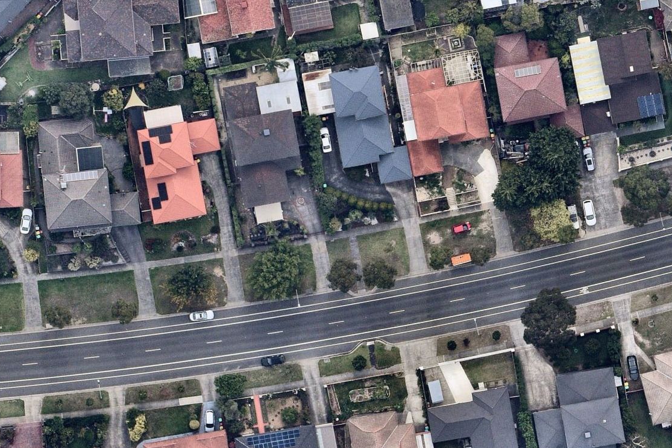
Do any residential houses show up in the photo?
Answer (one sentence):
Yes, looking at the shot, I can spot a residential house.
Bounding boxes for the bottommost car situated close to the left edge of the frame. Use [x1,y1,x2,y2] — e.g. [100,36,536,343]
[20,209,33,234]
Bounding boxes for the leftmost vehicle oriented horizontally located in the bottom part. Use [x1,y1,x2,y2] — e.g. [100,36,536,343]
[189,309,215,322]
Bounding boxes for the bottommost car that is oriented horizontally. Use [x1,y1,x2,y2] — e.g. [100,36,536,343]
[260,354,286,367]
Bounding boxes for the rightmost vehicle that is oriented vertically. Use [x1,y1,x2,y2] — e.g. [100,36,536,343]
[627,355,639,379]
